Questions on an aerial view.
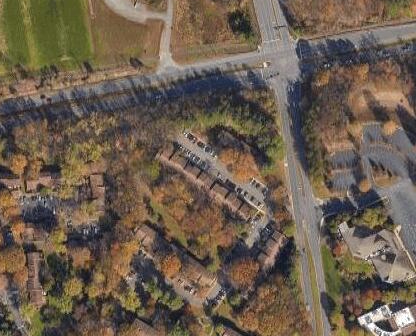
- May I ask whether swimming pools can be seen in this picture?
No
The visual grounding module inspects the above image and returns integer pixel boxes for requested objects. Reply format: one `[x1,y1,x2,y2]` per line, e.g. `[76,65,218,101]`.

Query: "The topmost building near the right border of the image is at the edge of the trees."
[337,222,416,285]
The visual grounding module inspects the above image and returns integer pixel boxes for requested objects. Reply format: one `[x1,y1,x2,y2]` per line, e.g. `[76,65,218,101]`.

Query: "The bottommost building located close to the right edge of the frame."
[358,304,416,336]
